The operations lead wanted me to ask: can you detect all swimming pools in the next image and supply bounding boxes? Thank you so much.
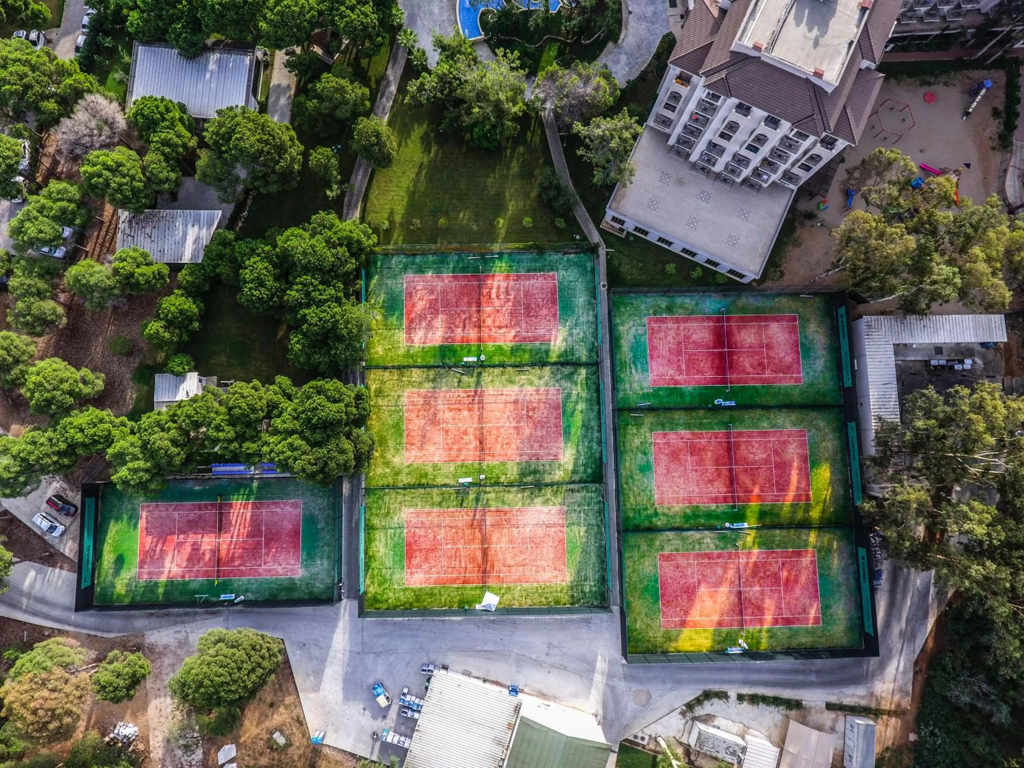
[458,0,500,37]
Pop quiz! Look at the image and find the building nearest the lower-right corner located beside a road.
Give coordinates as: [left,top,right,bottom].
[838,714,876,768]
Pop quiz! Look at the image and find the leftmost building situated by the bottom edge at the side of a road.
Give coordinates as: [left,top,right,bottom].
[403,664,522,768]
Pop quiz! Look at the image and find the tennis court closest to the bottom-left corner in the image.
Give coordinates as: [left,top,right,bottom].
[94,480,336,605]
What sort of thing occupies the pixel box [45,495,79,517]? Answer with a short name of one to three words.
car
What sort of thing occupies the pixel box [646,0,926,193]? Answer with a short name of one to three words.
building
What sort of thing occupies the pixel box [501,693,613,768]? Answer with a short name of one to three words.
building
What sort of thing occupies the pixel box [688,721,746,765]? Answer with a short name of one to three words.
shed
